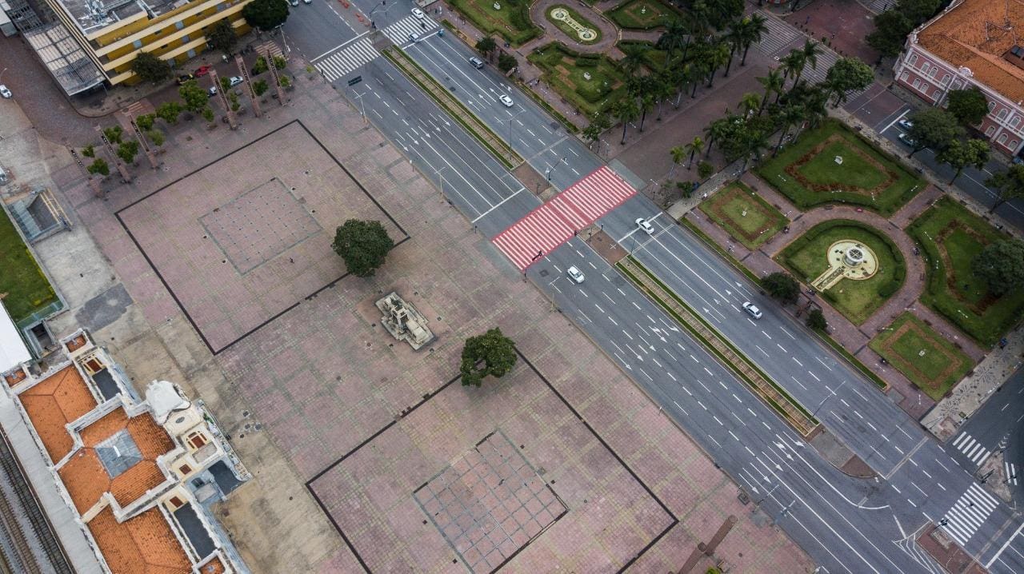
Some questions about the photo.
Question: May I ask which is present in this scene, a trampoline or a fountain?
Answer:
fountain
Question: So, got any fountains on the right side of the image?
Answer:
Yes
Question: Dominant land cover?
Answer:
paved ground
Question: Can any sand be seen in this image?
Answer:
No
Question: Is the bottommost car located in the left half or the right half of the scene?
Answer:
right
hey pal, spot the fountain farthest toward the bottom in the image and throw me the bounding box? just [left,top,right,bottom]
[811,238,881,296]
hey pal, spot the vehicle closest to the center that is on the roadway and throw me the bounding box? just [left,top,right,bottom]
[565,264,586,284]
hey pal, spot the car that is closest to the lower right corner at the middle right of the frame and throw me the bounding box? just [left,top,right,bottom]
[739,298,765,321]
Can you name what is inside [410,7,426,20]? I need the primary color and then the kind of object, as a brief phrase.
white vehicle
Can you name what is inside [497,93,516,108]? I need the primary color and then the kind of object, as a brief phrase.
white car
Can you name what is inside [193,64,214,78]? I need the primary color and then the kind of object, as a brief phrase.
red car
